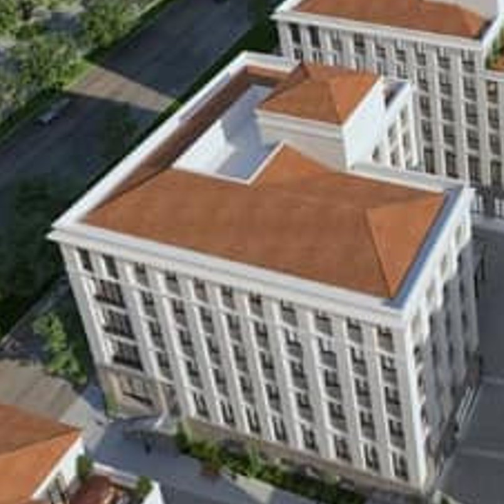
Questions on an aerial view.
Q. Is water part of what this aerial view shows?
No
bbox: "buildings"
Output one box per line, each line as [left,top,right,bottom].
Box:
[0,421,162,504]
[48,52,478,485]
